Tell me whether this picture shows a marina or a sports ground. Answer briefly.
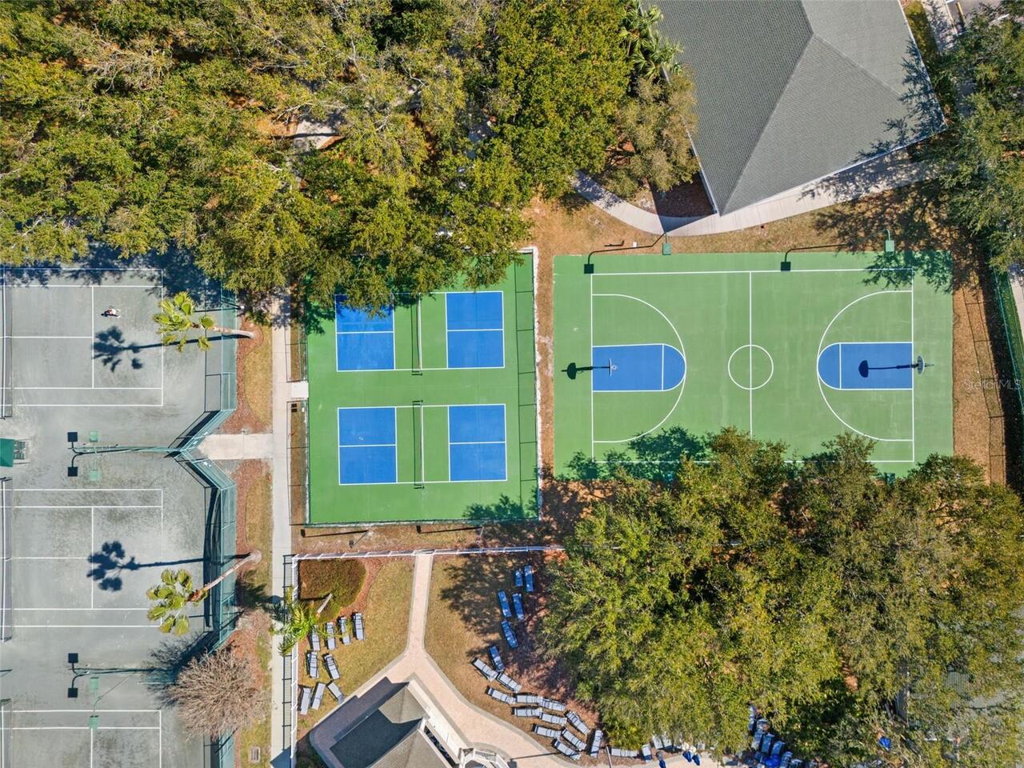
sports ground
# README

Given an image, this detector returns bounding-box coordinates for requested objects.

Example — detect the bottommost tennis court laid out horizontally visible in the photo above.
[0,670,236,768]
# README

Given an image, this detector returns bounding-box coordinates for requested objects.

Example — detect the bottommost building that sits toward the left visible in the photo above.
[328,677,485,768]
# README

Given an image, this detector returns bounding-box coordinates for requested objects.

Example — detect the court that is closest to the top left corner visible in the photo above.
[0,204,237,449]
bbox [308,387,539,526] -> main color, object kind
green sports court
